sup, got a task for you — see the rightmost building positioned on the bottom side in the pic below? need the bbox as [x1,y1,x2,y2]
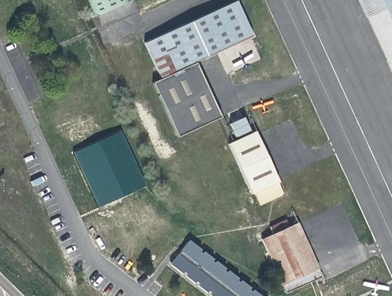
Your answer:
[262,220,323,292]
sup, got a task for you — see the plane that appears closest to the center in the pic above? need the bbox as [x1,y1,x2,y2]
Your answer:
[252,100,274,114]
